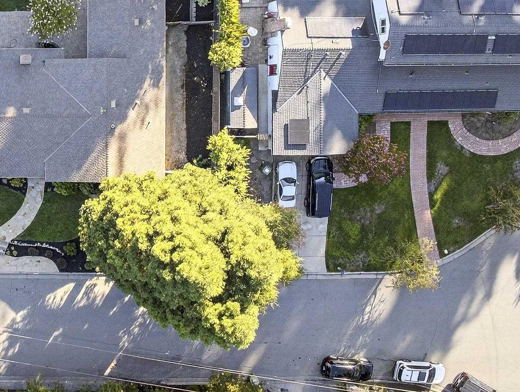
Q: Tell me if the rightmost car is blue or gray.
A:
gray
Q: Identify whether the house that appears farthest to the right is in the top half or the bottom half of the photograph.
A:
top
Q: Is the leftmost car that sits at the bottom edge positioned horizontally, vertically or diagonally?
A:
horizontally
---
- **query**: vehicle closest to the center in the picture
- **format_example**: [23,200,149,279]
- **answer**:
[277,160,303,209]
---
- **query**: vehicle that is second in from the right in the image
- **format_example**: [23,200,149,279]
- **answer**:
[395,361,450,389]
